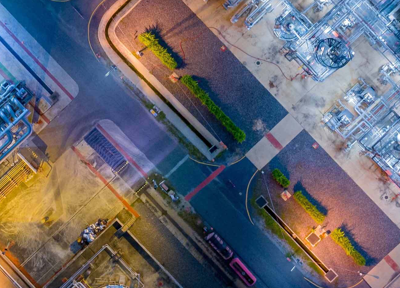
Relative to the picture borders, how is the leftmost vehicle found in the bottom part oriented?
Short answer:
on a diagonal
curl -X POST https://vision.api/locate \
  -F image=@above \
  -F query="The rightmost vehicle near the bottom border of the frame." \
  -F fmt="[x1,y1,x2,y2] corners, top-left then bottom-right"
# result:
[230,259,258,288]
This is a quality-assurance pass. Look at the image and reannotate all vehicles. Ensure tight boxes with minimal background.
[230,259,258,288]
[207,233,234,262]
